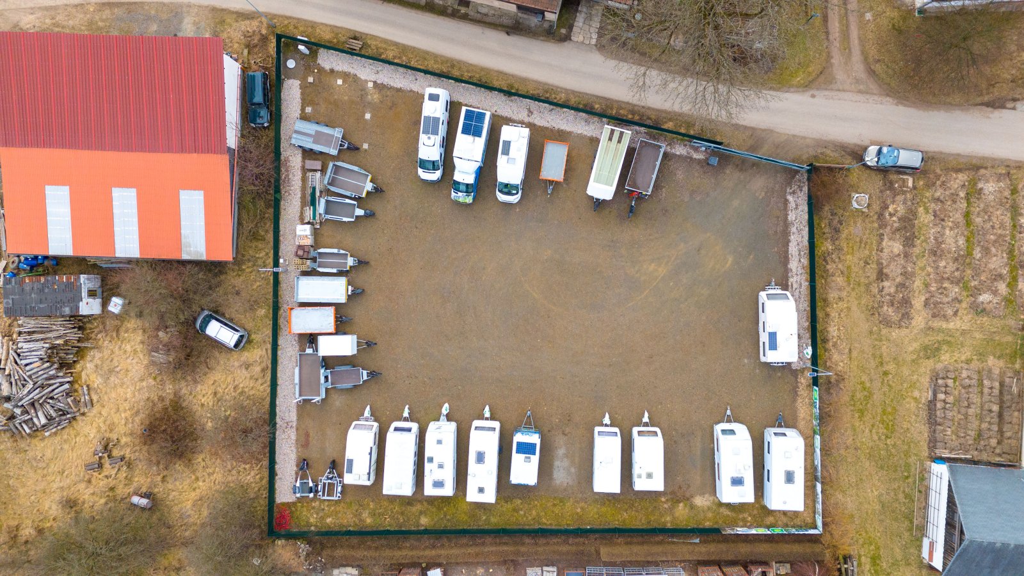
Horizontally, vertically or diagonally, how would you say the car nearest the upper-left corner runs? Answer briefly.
vertically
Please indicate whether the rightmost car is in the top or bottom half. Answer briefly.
top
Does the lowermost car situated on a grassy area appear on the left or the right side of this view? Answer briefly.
left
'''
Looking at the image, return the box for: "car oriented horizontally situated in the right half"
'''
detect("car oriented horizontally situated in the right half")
[862,142,925,174]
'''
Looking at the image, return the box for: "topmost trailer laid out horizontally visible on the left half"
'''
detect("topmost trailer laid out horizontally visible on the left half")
[292,120,359,155]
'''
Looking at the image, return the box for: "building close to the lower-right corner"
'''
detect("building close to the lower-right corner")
[922,459,1024,576]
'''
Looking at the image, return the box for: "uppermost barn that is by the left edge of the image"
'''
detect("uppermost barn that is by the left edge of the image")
[0,32,242,261]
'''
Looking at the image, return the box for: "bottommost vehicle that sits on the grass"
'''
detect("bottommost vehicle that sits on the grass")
[192,310,252,352]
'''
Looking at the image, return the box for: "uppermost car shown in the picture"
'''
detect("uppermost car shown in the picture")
[244,70,274,128]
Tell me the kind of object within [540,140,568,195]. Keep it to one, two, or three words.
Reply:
trailer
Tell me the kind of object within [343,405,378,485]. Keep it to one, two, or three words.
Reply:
camper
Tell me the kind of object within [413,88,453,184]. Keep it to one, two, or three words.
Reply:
van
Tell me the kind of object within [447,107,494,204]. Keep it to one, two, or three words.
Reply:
camper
